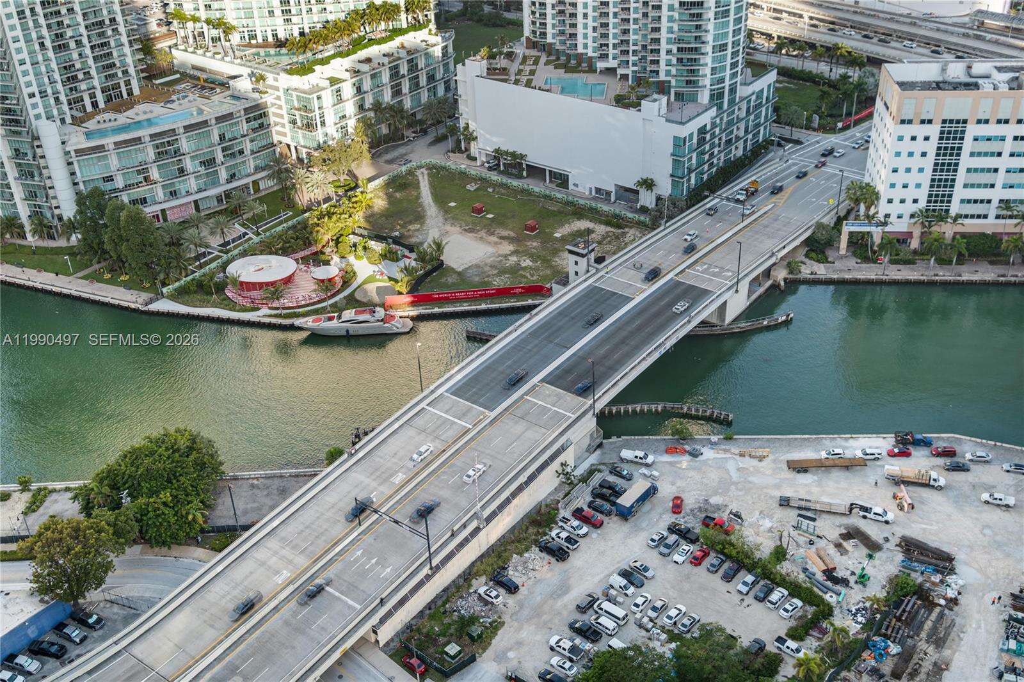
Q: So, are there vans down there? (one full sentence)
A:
Yes, the picture does show a van.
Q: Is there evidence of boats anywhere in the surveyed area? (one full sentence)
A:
Yes, I can see a boat in this picture.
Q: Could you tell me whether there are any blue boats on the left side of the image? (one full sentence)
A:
No, I see no blue boat on the left side of the image.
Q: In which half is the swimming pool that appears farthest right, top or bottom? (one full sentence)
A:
Seen from above, the swimming pool that appears farthest right lies in the top half of the view.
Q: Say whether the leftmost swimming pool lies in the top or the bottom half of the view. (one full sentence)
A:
The leftmost swimming pool is in the top half of the image.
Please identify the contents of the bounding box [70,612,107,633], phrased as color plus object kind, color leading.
black truck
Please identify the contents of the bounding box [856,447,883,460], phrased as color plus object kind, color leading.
white vehicle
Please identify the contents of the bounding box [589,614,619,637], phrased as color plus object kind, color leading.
white vehicle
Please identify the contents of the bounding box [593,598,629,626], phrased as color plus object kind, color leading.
white van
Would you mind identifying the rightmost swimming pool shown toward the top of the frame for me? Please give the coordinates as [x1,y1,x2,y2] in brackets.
[545,76,605,97]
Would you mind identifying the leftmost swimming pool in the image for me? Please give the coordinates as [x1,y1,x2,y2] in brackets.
[86,106,202,138]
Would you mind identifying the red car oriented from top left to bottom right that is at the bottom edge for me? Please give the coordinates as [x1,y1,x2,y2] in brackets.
[399,654,428,676]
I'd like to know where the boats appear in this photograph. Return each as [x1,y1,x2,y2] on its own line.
[300,309,416,337]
